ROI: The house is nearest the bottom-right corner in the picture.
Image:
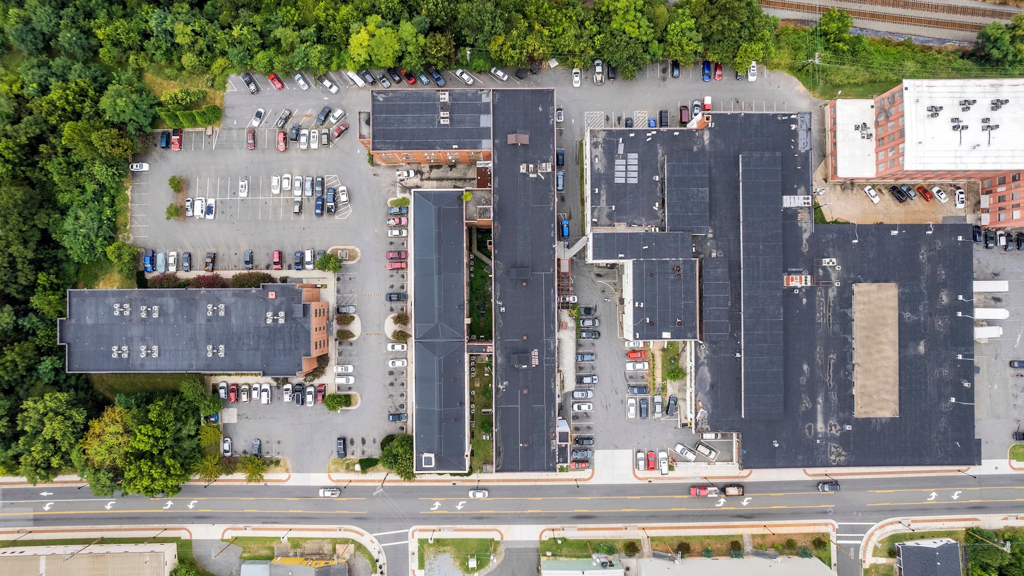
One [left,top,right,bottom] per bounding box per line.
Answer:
[890,536,959,576]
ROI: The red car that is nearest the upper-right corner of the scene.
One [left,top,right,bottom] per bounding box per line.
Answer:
[917,186,933,202]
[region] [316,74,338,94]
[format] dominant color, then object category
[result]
white vehicle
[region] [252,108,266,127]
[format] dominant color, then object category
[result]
white car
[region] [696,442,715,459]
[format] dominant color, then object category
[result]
white car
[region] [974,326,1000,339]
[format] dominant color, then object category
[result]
white vehicle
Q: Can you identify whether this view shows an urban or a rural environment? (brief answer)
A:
urban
